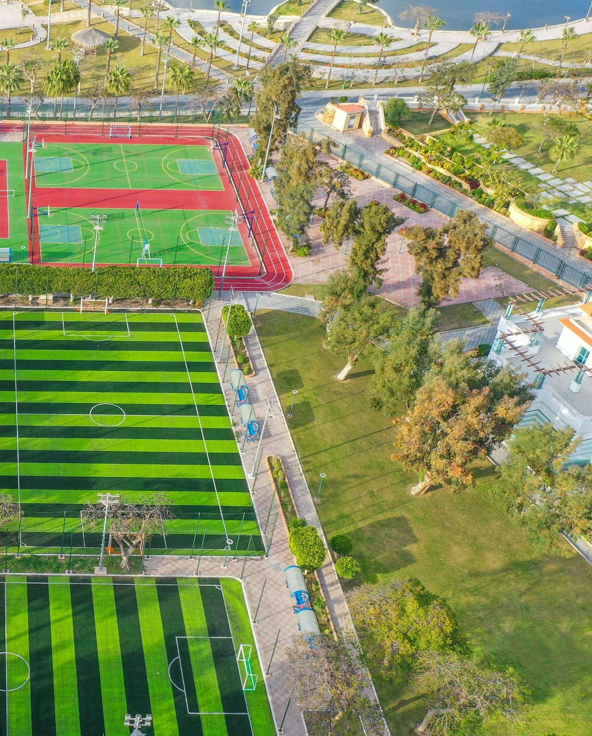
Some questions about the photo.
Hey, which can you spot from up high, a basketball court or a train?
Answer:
basketball court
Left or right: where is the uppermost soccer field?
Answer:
left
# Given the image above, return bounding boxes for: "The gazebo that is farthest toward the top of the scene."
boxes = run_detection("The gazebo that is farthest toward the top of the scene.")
[70,25,110,56]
